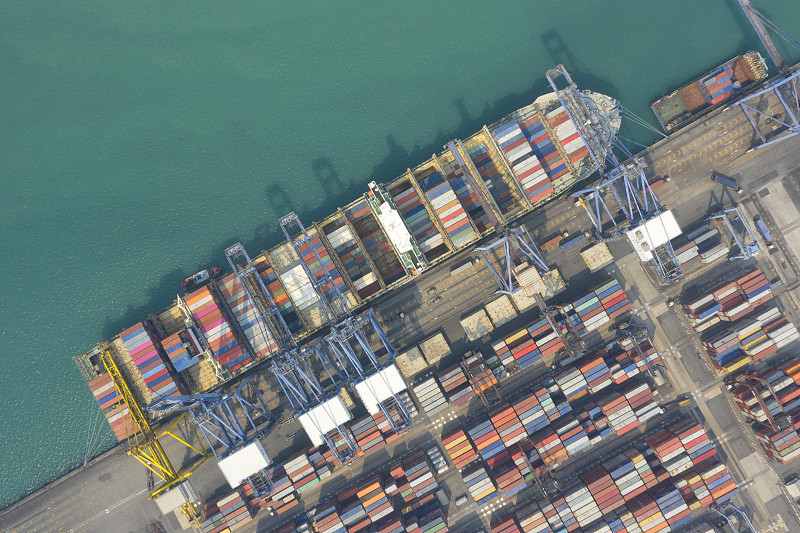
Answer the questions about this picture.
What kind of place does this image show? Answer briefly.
port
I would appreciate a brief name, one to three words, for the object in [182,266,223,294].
boat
